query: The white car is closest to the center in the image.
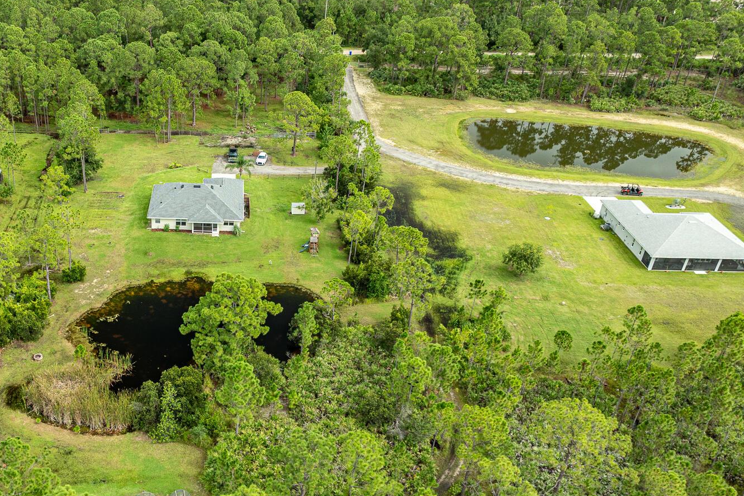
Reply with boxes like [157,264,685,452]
[252,149,266,164]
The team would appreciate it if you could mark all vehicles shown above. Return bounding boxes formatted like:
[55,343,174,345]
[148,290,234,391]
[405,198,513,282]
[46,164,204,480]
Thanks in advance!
[252,149,266,164]
[621,180,645,193]
[227,146,239,162]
